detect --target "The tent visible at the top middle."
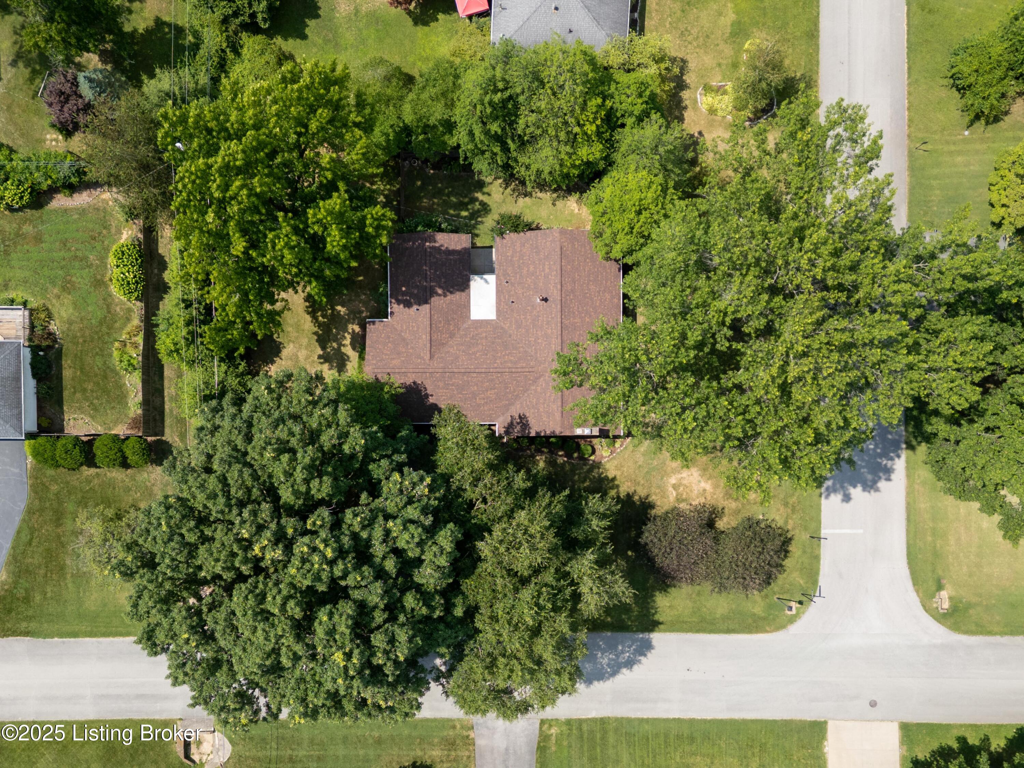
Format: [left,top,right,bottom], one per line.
[456,0,490,27]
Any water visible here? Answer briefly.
No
